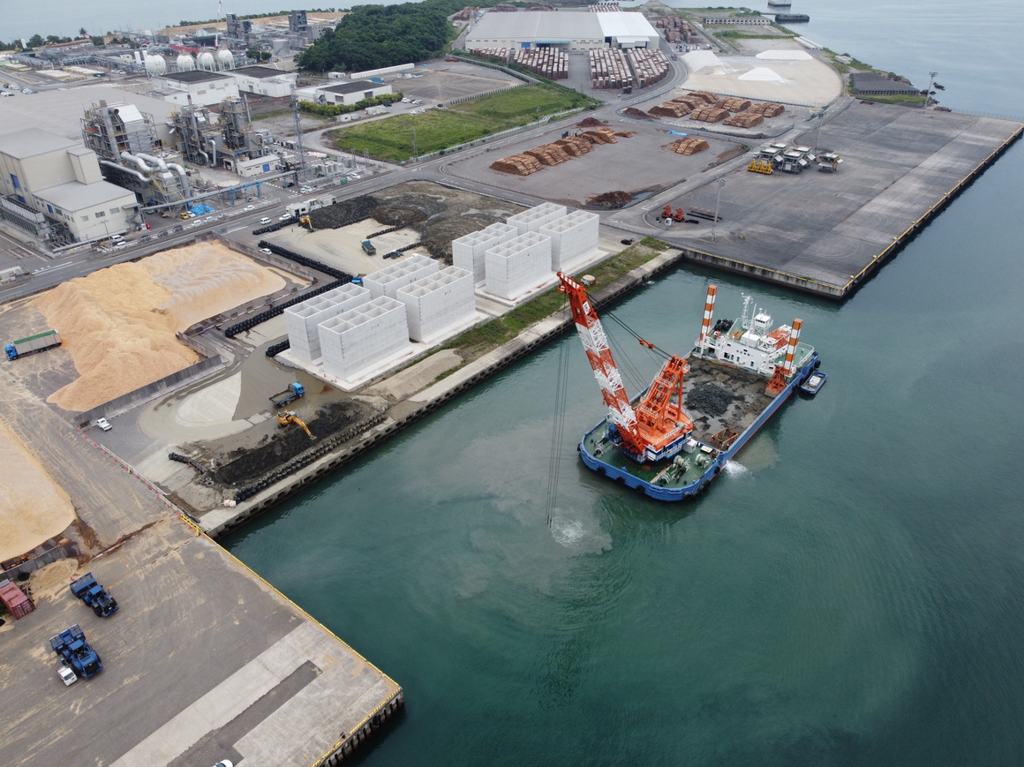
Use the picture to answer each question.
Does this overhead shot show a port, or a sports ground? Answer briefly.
port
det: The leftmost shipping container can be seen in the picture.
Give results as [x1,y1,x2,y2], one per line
[0,572,38,621]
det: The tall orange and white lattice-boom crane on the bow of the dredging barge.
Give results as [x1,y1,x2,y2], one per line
[546,273,695,528]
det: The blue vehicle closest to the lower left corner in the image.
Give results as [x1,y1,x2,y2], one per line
[47,622,105,681]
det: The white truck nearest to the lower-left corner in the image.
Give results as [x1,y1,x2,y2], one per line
[57,664,79,687]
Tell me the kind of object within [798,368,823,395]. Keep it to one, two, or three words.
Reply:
boat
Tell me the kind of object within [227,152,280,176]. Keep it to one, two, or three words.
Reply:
shed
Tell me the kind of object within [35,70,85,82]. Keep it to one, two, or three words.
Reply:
building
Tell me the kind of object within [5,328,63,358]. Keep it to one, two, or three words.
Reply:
truck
